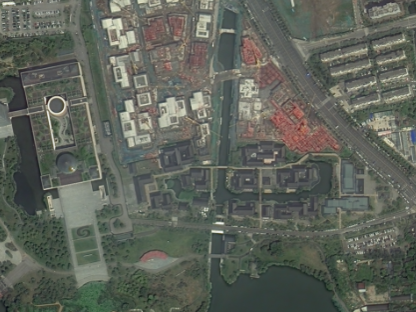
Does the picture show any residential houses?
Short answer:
Yes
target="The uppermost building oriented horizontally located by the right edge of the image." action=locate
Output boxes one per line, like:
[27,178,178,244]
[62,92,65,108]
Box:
[367,2,401,22]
